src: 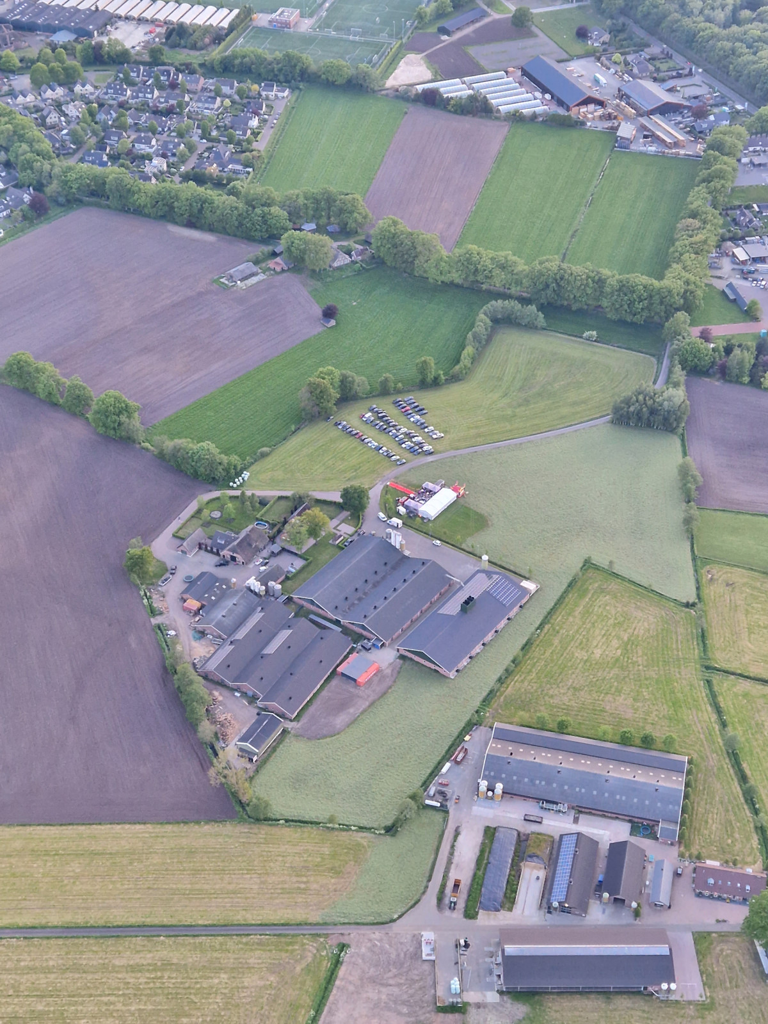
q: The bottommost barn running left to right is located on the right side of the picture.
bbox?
[498,928,676,993]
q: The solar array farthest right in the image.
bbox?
[551,832,578,902]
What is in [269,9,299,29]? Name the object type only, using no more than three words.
building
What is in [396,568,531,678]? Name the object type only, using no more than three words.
barn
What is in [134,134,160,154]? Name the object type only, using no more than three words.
house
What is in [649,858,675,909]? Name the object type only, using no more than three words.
shed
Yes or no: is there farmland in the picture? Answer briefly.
Yes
